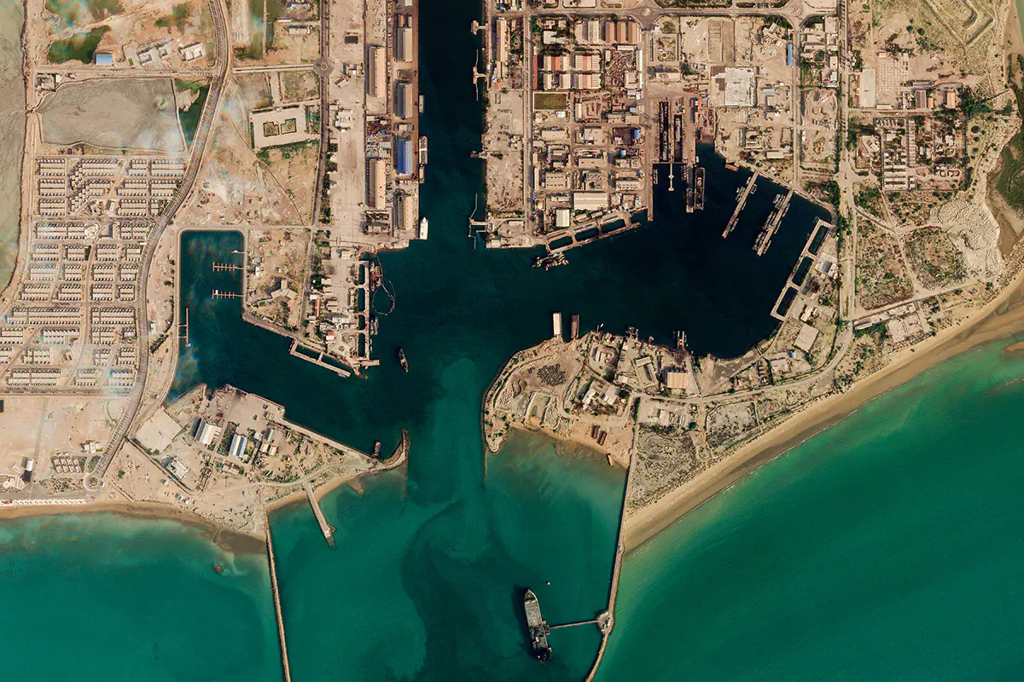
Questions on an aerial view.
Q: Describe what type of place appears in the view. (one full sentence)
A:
This image shows a port.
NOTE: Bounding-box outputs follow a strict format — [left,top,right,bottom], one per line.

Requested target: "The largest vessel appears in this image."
[526,590,549,662]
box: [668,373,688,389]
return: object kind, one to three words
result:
building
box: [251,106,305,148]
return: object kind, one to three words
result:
building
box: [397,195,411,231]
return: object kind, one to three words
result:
shed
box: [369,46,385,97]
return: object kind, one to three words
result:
shed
